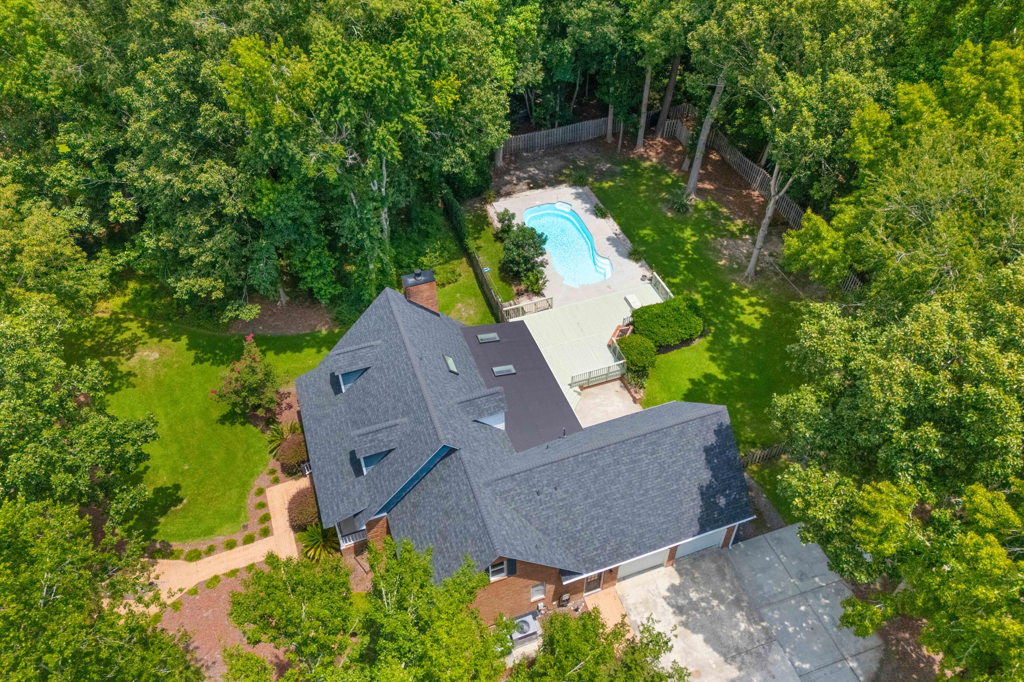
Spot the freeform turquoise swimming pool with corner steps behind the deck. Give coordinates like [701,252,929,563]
[523,201,612,286]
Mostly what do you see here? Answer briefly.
trees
